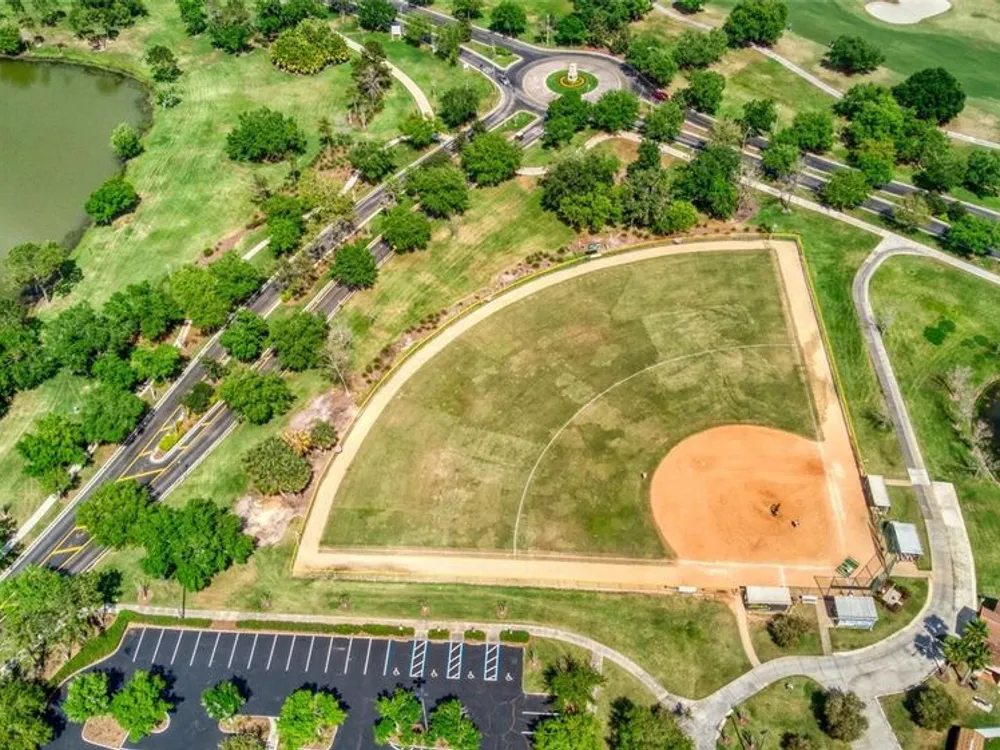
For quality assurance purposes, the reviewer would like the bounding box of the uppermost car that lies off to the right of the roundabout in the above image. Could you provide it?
[650,86,670,100]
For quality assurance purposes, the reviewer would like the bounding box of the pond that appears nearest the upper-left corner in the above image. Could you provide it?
[0,60,152,307]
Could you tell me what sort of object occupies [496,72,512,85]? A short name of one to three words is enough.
vehicle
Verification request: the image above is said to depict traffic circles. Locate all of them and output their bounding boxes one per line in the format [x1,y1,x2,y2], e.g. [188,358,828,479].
[481,50,638,128]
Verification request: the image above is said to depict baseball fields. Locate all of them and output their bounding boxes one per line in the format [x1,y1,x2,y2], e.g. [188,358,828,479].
[291,239,891,602]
